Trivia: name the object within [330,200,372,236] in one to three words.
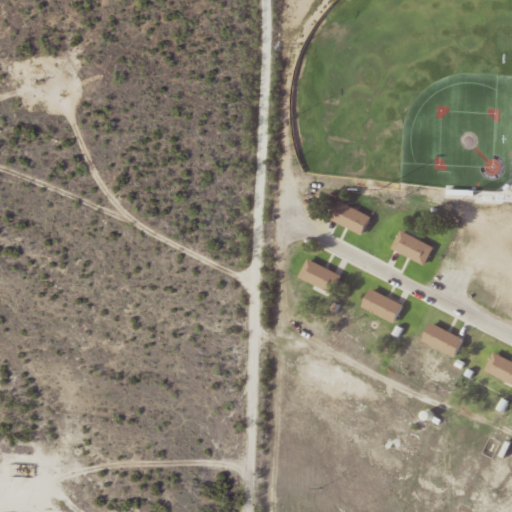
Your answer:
house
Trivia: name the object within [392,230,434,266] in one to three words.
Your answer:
house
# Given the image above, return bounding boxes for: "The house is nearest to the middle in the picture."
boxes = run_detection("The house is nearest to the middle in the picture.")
[298,258,340,294]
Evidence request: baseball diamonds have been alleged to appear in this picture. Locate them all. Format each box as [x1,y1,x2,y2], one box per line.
[292,0,512,191]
